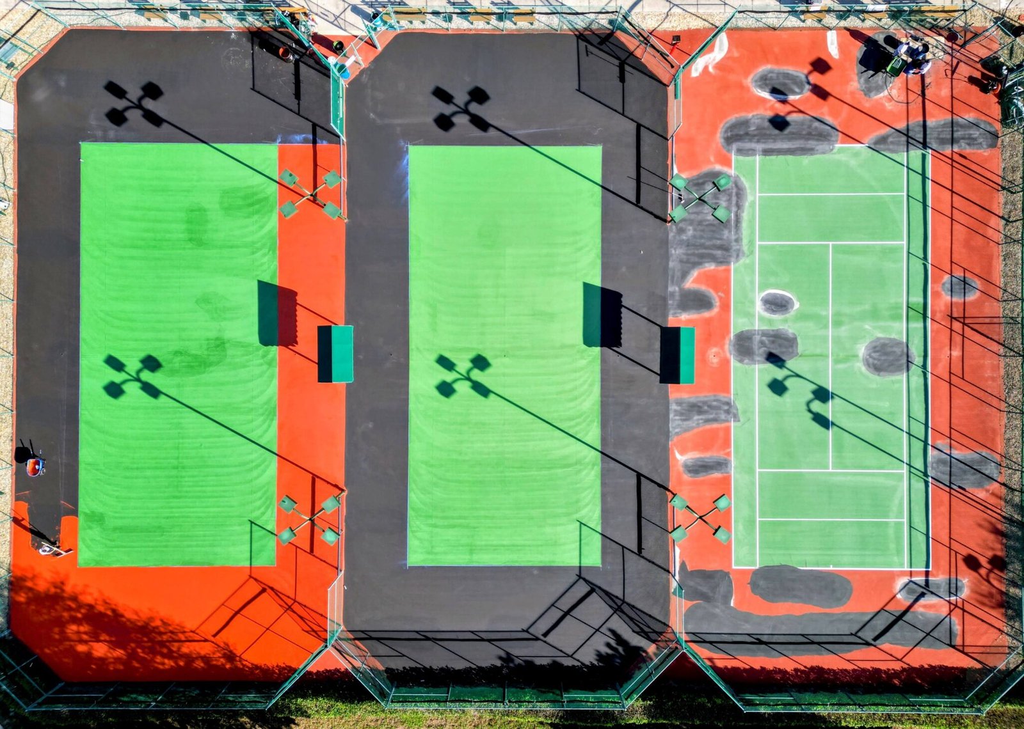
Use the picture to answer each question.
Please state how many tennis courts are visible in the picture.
three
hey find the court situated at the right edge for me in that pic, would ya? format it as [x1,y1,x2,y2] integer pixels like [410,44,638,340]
[669,29,1004,687]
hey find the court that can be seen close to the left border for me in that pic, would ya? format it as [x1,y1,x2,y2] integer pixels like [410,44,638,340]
[8,25,346,686]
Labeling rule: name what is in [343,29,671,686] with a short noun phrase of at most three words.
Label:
tennis court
